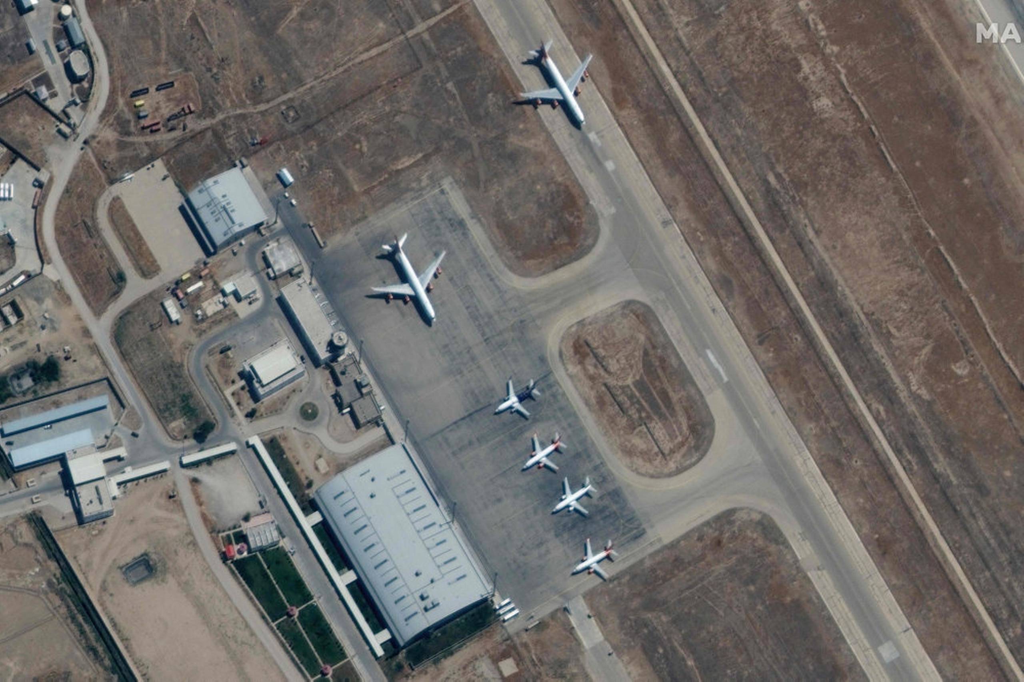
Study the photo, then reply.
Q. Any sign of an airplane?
Yes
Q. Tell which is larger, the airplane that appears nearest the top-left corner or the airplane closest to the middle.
the airplane that appears nearest the top-left corner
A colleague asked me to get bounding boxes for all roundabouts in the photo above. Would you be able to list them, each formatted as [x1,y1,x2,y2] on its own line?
[291,393,327,429]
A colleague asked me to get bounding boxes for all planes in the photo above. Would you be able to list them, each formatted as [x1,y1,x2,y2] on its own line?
[571,540,620,576]
[371,239,449,318]
[520,43,598,122]
[522,434,568,469]
[495,382,540,415]
[552,477,599,513]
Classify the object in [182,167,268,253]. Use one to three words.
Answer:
hangar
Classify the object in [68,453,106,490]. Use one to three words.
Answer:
building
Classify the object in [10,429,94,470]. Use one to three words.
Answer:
shed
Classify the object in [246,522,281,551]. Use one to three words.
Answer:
greenhouse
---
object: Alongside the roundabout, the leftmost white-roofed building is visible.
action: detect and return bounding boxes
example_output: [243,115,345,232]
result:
[239,338,304,399]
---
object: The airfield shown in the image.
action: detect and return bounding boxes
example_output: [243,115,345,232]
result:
[312,0,1024,682]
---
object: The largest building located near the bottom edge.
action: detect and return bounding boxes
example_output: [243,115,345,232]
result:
[314,443,494,650]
